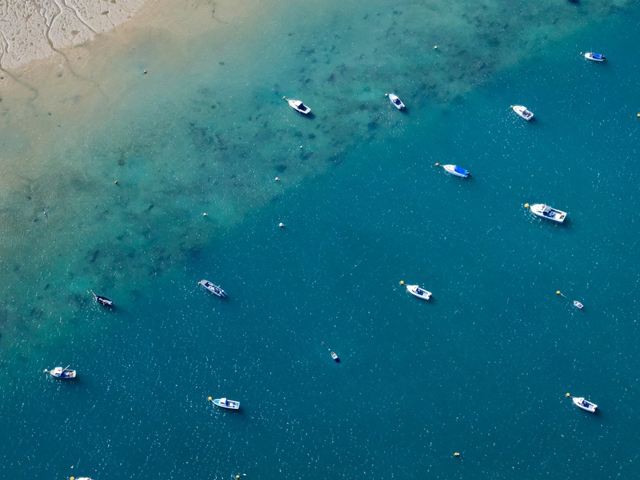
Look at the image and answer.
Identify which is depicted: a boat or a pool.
boat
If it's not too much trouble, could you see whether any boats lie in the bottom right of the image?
Yes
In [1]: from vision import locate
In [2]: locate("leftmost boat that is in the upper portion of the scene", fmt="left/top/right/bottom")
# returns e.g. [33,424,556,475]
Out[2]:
[288,99,312,116]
